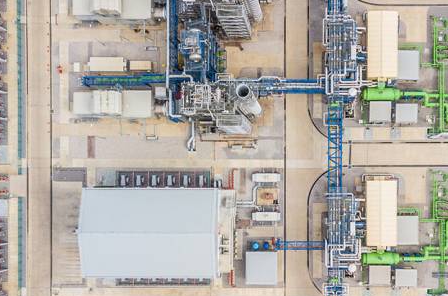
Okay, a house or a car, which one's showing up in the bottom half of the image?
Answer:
house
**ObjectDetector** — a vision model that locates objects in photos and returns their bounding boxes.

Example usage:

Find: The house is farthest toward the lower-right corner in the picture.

[392,267,418,288]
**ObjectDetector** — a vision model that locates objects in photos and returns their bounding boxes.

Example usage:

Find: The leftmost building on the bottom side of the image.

[78,187,222,281]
